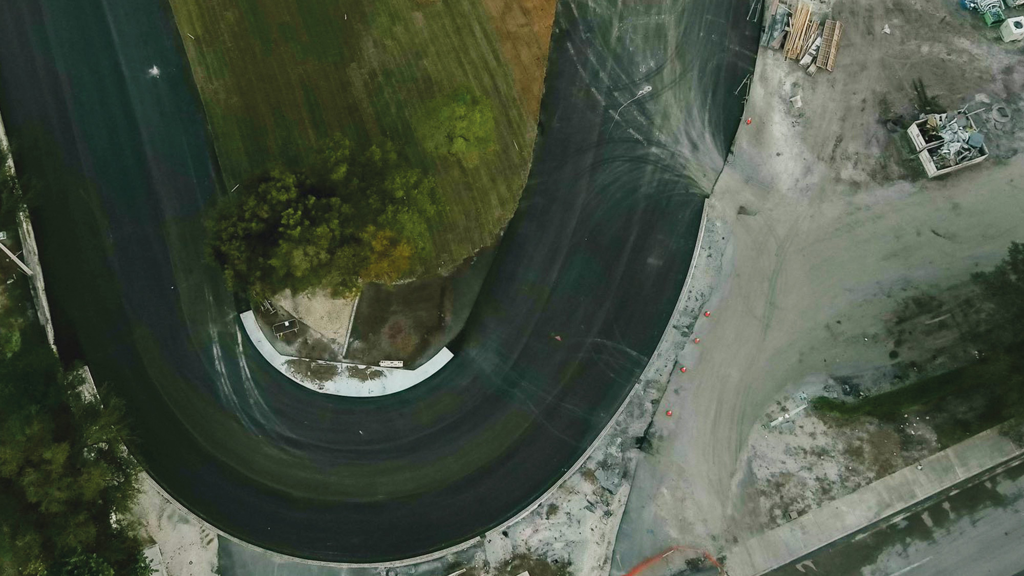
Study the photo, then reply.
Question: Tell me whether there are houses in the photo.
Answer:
No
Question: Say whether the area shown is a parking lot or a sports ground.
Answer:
sports ground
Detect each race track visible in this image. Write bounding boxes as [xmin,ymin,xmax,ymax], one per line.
[0,0,763,562]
